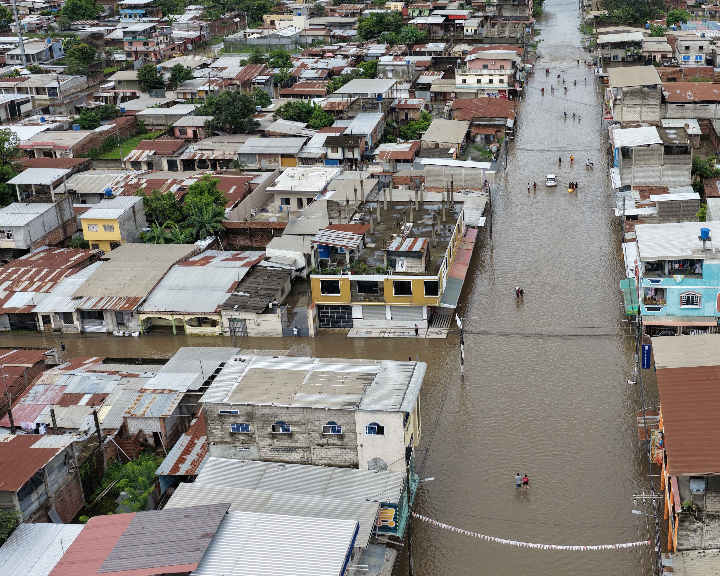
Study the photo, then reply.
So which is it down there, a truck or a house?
house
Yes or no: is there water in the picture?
Yes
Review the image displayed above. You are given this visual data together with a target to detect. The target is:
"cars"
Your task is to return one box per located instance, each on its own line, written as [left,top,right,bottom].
[545,173,558,186]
